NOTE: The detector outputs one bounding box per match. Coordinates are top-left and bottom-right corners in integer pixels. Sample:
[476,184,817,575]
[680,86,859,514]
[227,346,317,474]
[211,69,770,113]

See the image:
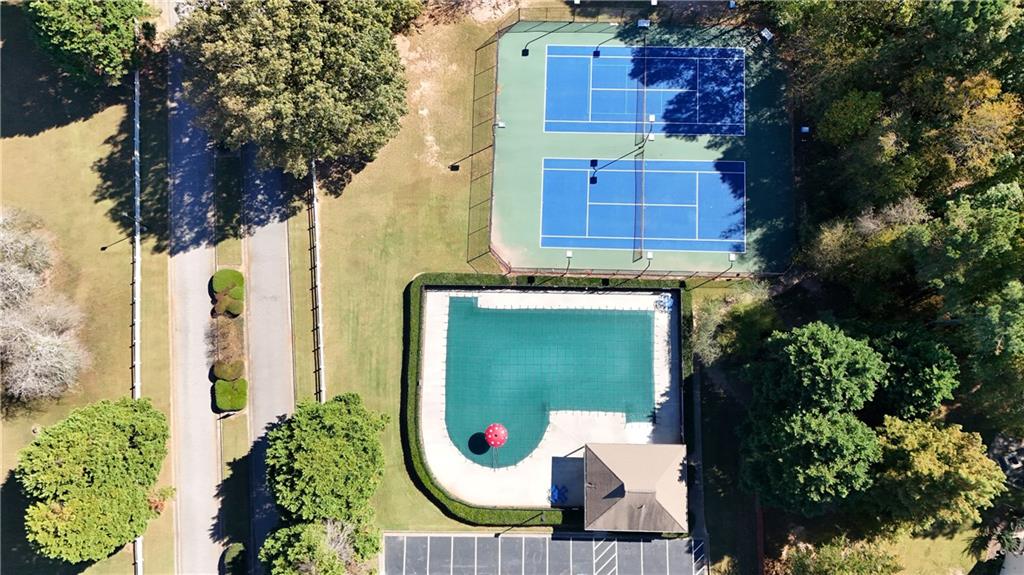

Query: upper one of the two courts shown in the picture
[544,34,745,142]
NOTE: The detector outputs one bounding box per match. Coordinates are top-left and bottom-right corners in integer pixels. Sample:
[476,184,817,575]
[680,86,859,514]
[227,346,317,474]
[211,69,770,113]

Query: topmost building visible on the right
[585,442,690,533]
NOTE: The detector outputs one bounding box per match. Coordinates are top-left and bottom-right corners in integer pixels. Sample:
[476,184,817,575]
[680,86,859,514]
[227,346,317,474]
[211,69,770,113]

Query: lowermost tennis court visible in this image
[540,148,746,258]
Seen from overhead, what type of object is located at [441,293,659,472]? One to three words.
swimming pool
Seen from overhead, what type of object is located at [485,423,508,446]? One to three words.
fountain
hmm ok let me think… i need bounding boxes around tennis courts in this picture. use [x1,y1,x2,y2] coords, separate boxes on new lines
[540,148,746,258]
[544,34,745,142]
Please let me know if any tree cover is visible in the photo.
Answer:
Yes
